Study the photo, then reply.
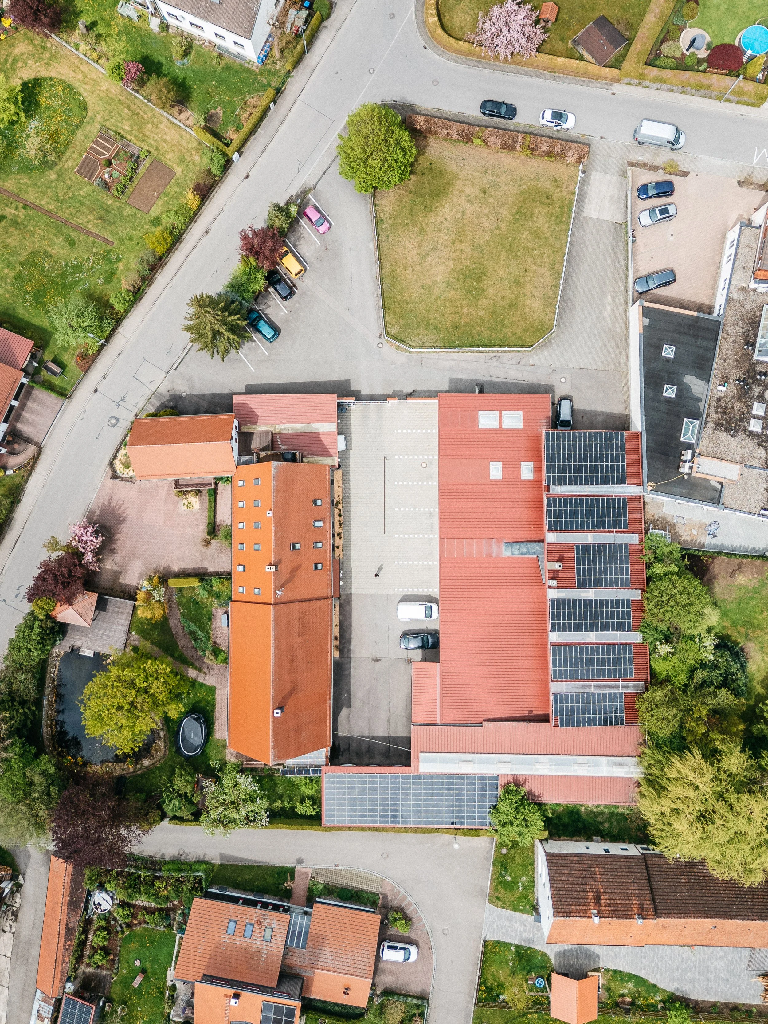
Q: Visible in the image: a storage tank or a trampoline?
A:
trampoline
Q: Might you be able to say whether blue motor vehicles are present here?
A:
Yes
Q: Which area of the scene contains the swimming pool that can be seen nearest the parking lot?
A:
top right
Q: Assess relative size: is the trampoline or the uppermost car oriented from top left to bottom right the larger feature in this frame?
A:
the trampoline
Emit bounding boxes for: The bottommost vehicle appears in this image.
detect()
[380,940,418,963]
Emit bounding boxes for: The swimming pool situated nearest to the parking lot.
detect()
[736,22,768,63]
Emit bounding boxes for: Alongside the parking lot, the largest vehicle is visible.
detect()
[632,121,685,151]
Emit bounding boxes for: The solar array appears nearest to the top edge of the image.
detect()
[545,431,627,485]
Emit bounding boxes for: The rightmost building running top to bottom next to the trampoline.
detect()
[226,461,339,766]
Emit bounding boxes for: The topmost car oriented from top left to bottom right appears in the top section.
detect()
[301,203,332,237]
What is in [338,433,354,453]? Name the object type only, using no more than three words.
vehicle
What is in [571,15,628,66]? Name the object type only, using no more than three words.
shed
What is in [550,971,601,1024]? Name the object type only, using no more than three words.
house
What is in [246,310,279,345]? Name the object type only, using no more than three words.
car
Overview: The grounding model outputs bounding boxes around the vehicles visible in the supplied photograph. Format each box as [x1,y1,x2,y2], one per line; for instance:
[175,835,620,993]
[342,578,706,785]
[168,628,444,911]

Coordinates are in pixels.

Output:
[278,246,306,281]
[397,601,438,621]
[479,100,517,123]
[538,108,576,134]
[400,632,439,651]
[633,267,678,293]
[555,397,575,429]
[380,940,418,963]
[265,269,294,303]
[338,433,354,453]
[636,203,679,229]
[301,203,332,237]
[246,310,279,345]
[632,121,685,151]
[635,179,676,204]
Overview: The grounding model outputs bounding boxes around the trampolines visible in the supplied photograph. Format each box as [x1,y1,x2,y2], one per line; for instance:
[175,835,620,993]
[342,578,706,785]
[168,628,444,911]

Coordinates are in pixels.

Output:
[172,710,209,762]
